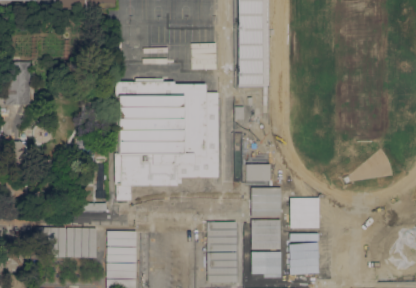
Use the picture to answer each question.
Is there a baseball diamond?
Yes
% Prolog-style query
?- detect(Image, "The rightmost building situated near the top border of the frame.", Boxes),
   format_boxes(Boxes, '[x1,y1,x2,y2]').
[240,0,270,112]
